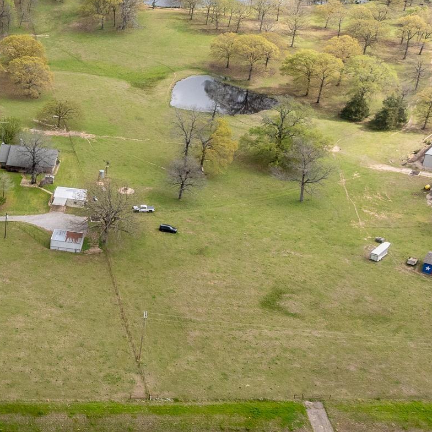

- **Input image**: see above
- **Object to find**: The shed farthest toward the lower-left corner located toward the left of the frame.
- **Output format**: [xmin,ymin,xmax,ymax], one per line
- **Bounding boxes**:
[51,226,85,251]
